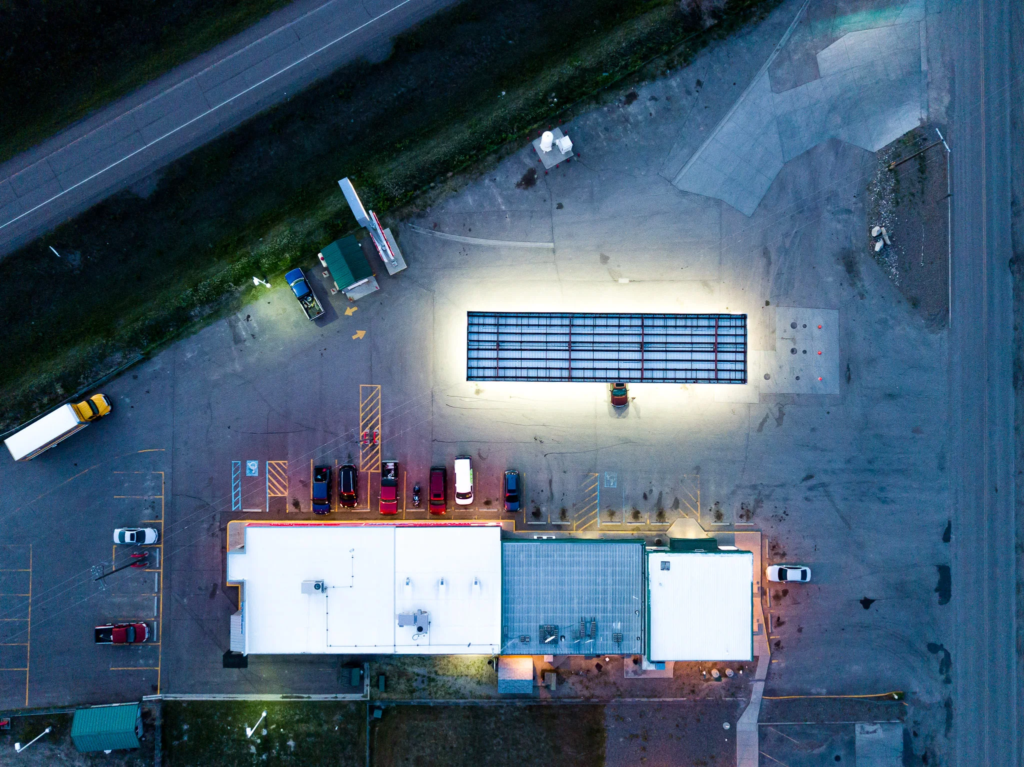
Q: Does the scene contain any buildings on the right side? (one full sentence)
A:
Yes, looking on the right side, one can make out a building.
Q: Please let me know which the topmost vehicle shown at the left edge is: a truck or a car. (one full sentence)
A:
It looks like the topmost vehicle shown at the left edge is a truck.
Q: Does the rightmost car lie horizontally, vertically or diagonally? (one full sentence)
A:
Seen from above, the rightmost car lies horizontally.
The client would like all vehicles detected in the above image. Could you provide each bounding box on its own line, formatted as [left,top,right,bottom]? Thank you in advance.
[427,467,449,514]
[452,455,475,505]
[413,484,420,504]
[94,622,152,646]
[337,463,359,509]
[377,459,400,516]
[113,526,160,547]
[5,387,124,459]
[310,464,333,516]
[608,385,630,408]
[286,268,326,322]
[765,564,811,585]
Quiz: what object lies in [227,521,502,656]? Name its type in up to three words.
building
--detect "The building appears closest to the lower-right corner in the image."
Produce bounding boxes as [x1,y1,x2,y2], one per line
[644,537,753,662]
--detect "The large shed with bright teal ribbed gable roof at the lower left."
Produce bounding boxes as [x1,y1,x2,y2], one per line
[71,699,153,752]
